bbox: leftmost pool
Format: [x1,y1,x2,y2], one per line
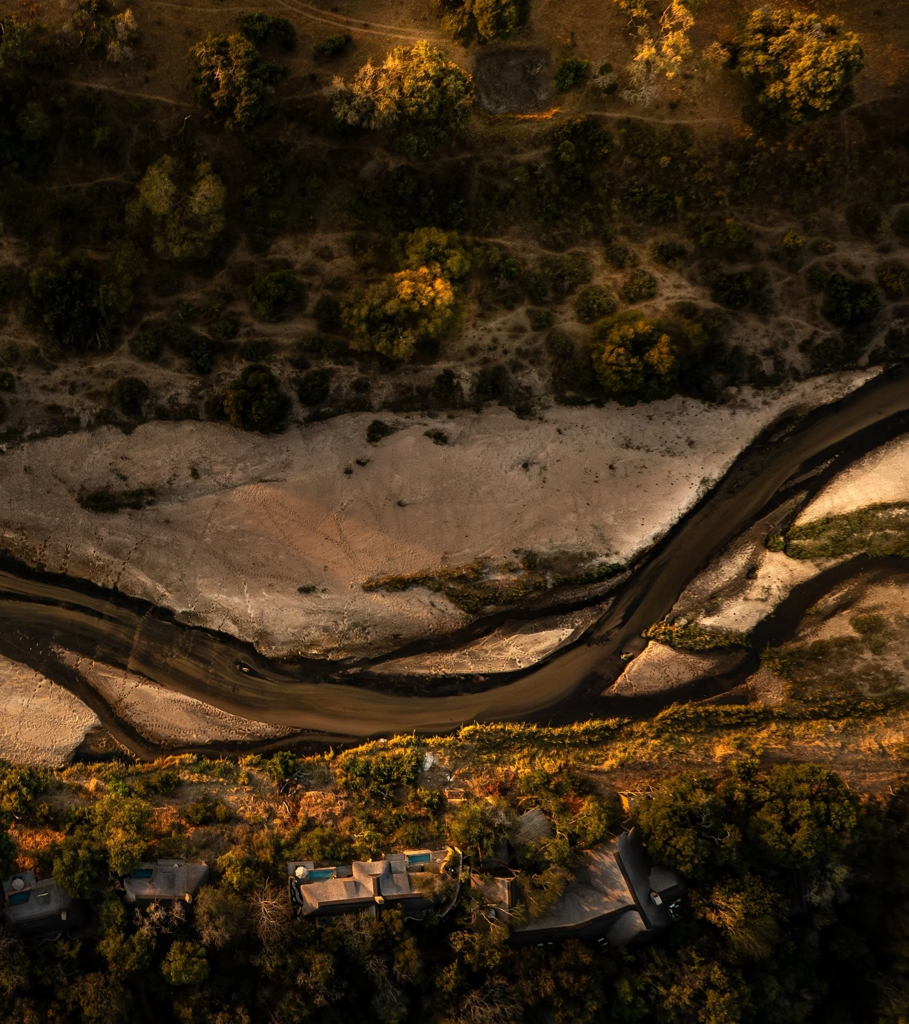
[6,887,35,905]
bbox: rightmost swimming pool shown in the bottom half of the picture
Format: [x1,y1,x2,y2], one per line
[403,851,435,866]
